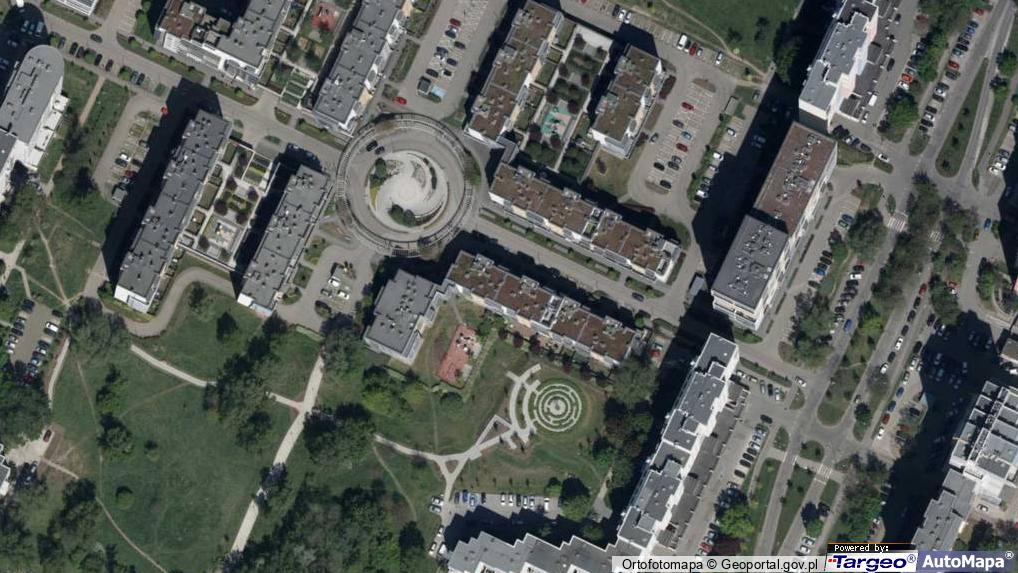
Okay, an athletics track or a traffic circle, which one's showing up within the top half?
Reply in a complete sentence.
There is a traffic circle within the top half.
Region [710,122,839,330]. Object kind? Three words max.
building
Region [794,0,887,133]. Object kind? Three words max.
building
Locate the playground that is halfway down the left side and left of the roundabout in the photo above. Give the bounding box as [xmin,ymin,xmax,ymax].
[211,220,236,250]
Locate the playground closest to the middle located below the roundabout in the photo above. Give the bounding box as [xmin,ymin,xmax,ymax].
[438,323,482,386]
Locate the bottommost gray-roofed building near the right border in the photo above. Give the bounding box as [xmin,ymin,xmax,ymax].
[902,469,979,573]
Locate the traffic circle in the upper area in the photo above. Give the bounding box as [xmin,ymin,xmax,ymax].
[335,115,474,256]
